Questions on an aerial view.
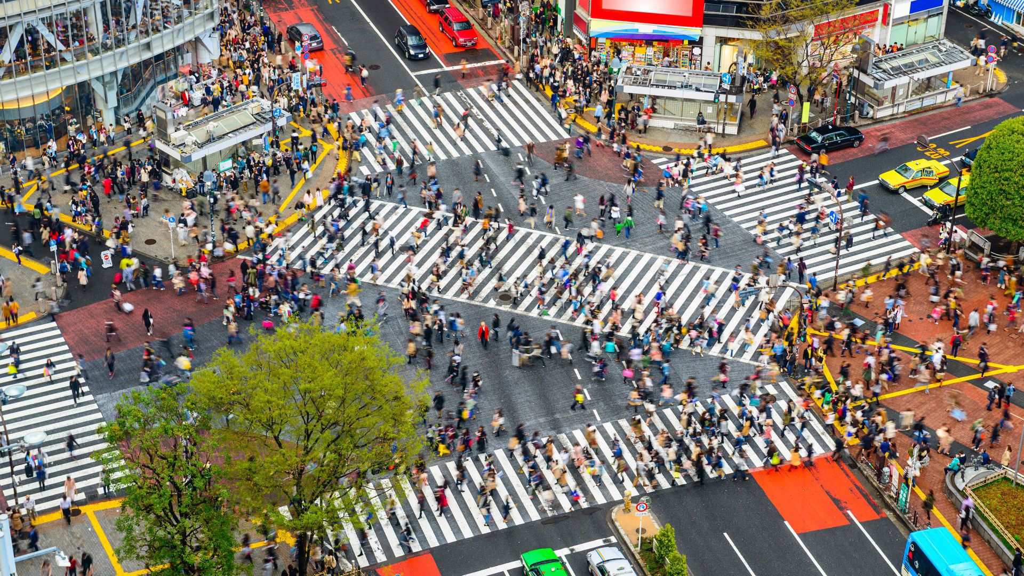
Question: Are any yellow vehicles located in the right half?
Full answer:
Yes, in the right half there is a yellow vehicle.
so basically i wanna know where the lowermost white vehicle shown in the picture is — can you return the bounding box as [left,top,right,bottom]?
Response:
[591,549,644,576]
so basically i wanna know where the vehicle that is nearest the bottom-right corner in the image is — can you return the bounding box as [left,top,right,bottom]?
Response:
[903,526,989,576]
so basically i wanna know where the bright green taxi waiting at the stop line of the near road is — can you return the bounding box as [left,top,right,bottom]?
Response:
[529,553,578,576]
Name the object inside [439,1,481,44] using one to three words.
car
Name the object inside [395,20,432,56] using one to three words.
car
